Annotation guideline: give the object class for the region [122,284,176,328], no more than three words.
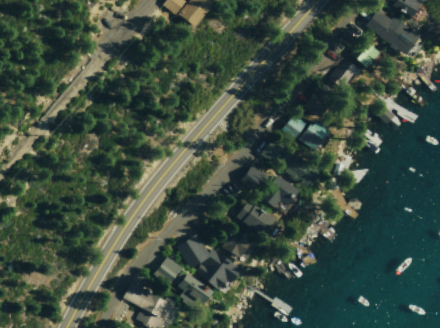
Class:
house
